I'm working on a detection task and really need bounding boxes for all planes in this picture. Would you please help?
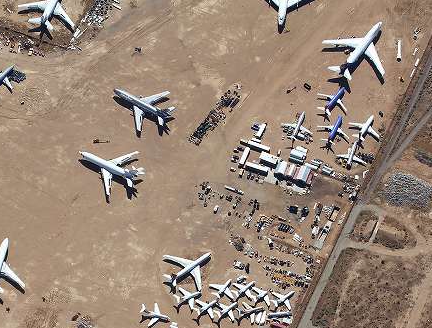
[336,142,366,169]
[195,300,218,321]
[319,88,348,116]
[277,0,297,26]
[323,23,386,81]
[273,292,295,311]
[80,148,145,199]
[282,112,312,140]
[210,280,234,301]
[349,116,380,144]
[142,301,170,326]
[114,90,178,134]
[216,303,238,322]
[177,288,202,312]
[234,283,255,301]
[0,239,25,292]
[239,304,263,324]
[0,66,15,91]
[317,116,350,148]
[250,288,271,307]
[166,252,212,292]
